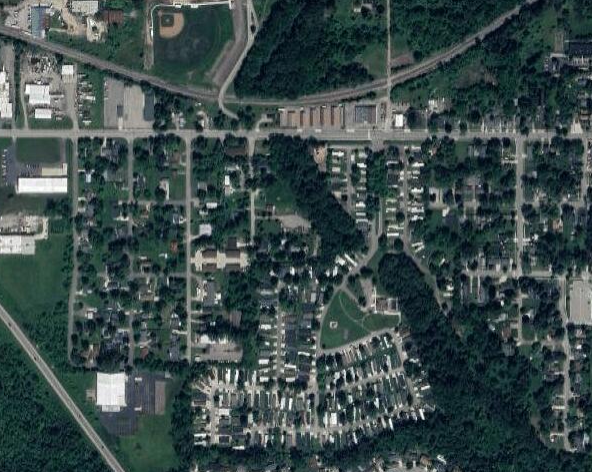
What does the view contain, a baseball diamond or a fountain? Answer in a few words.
baseball diamond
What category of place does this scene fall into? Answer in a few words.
residential area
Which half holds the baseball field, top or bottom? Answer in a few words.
top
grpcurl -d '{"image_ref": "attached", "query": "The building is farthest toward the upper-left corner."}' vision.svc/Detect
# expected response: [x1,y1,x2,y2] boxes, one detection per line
[30,6,54,38]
